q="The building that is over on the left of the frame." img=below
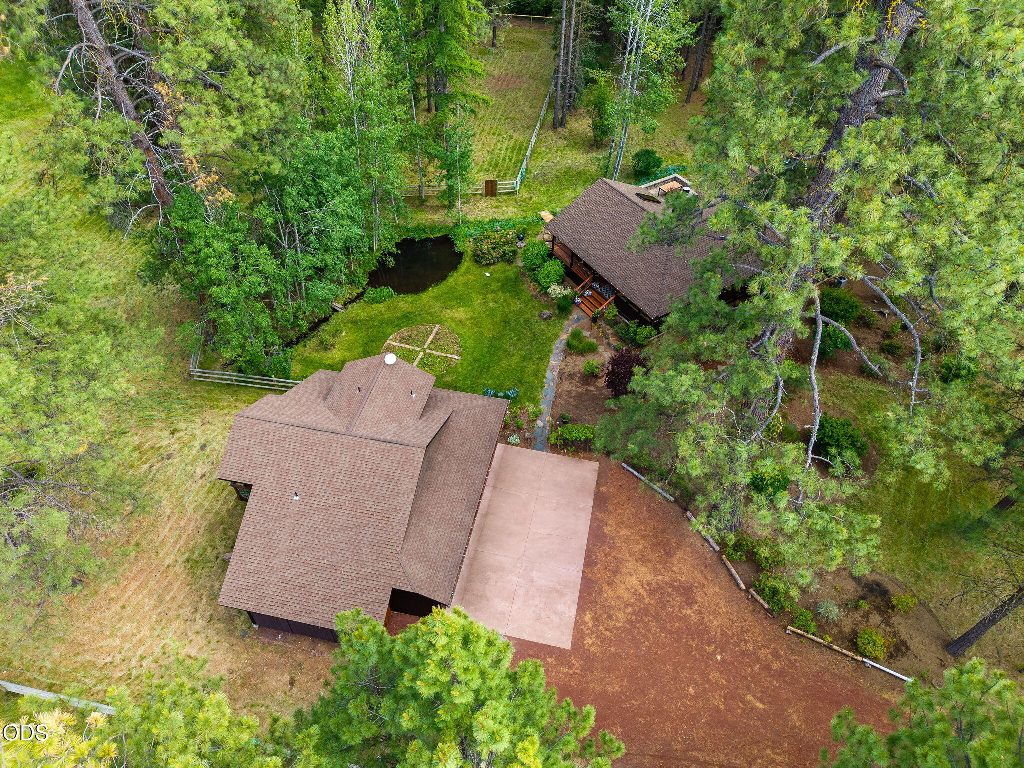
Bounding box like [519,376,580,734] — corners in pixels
[217,354,512,649]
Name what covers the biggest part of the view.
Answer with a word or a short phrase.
trees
